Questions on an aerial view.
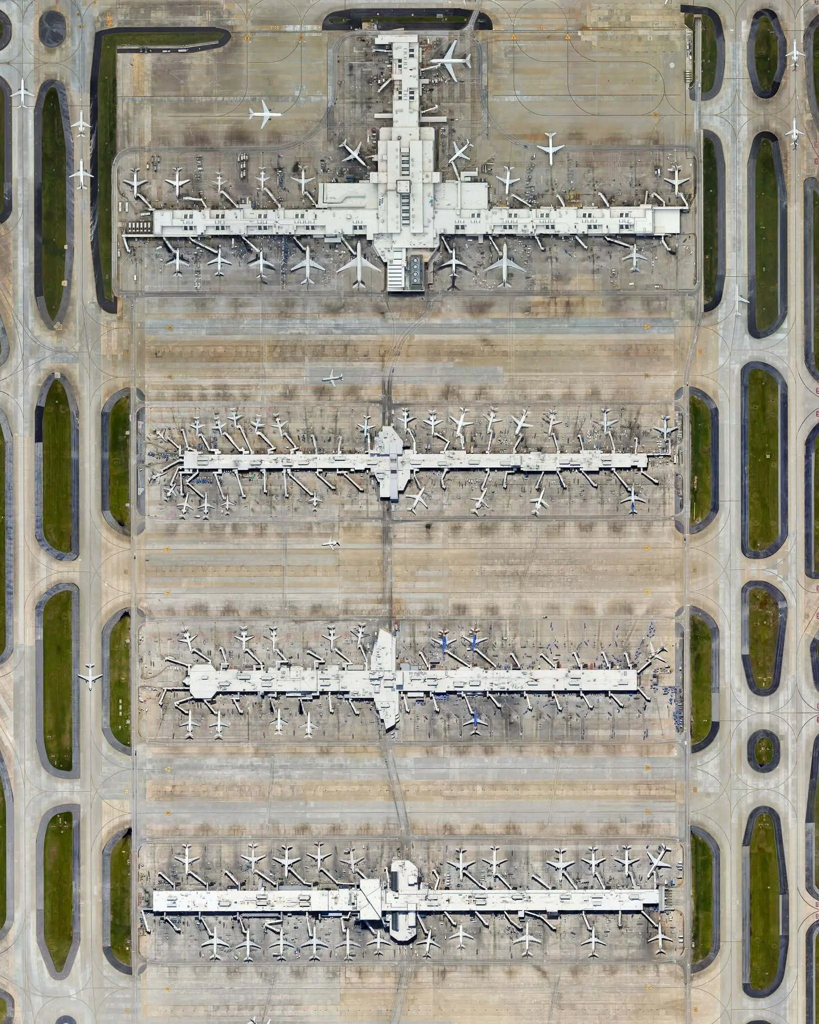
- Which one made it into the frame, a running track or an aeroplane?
aeroplane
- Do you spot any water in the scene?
No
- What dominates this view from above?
paved ground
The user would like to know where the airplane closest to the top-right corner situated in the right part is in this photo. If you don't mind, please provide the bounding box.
[786,40,805,66]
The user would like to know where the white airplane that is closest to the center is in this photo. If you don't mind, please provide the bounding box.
[405,486,427,513]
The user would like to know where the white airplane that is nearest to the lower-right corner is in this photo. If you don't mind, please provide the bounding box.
[648,924,674,955]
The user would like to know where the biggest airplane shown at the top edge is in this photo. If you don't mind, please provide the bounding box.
[429,39,471,82]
